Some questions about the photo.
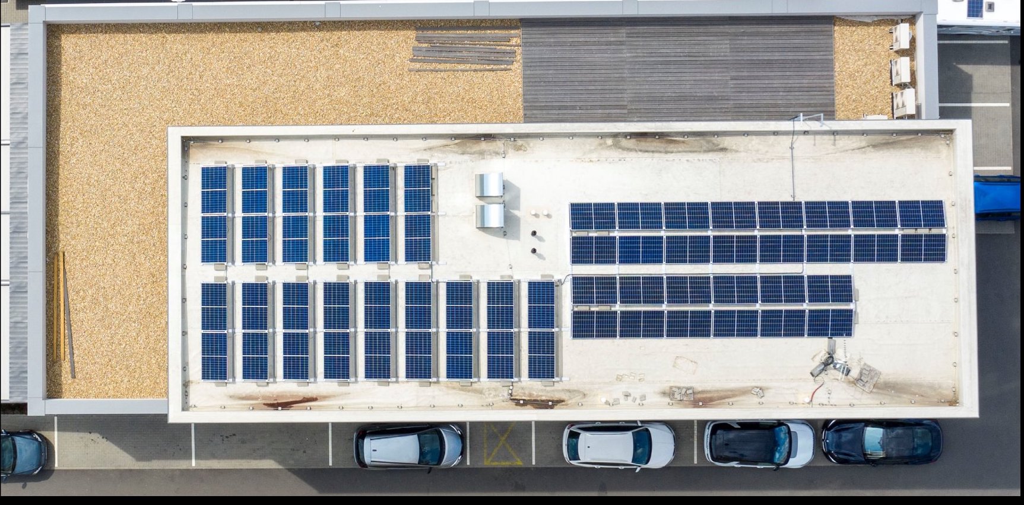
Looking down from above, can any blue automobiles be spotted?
Yes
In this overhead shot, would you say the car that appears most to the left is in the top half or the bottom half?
bottom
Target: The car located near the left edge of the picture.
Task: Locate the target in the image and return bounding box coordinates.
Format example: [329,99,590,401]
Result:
[0,425,47,483]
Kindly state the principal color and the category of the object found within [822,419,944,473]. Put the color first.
black car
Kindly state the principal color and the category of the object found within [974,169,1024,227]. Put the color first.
blue car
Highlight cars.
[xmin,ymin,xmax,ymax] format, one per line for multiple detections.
[354,422,464,476]
[563,421,675,477]
[822,419,944,473]
[0,425,47,483]
[974,169,1024,227]
[705,420,815,476]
